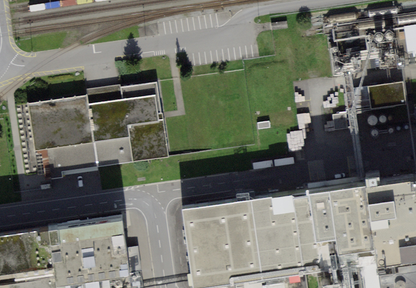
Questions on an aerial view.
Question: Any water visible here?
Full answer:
No, there's no water in this view.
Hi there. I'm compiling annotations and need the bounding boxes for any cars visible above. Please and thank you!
[334,172,346,178]
[78,176,84,188]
